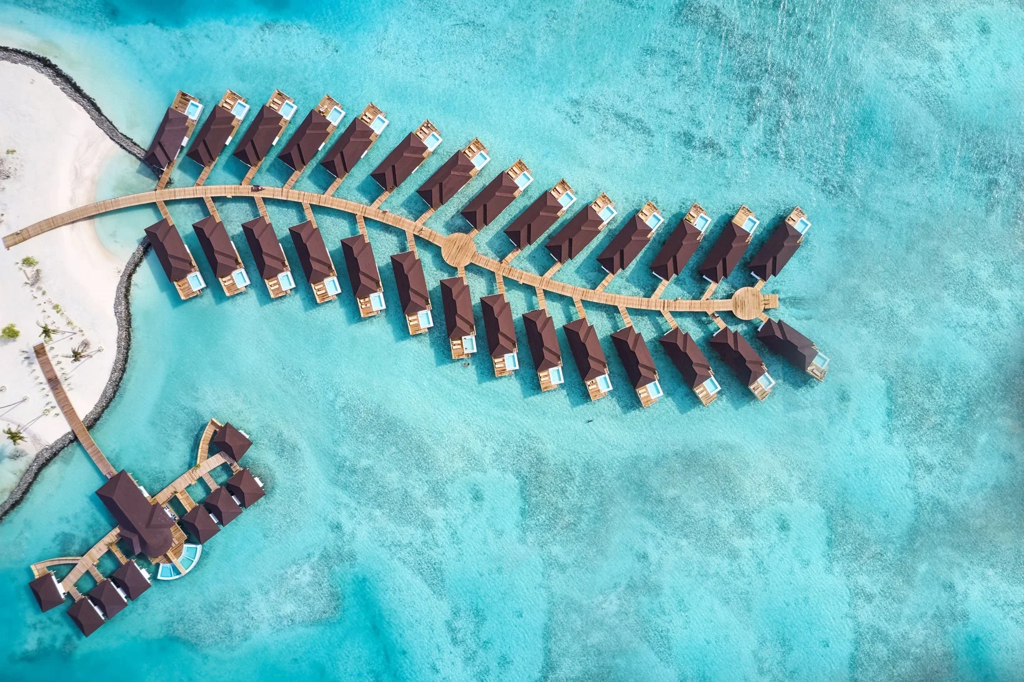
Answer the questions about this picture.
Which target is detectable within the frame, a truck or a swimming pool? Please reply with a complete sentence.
The image shows a swimming pool.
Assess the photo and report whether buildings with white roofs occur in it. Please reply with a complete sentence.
No, the photo shows no building with a white roof.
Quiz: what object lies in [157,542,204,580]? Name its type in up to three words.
swimming pool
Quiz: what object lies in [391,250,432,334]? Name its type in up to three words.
house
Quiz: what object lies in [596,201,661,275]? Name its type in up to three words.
house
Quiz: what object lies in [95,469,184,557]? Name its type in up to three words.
building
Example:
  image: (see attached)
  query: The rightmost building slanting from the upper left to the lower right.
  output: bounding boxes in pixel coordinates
[754,318,828,385]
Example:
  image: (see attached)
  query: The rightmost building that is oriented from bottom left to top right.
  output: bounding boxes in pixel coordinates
[745,205,808,281]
